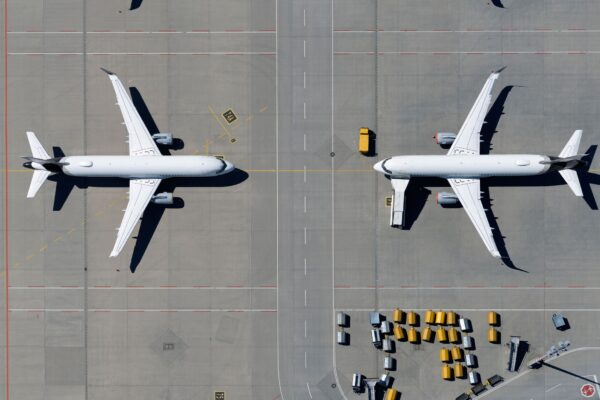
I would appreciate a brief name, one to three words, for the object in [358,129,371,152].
vehicle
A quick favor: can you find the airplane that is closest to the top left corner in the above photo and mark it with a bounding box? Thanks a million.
[21,68,236,258]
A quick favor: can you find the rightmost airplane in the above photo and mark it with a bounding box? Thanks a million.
[373,68,588,257]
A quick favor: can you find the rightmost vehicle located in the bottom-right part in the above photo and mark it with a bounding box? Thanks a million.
[550,312,566,330]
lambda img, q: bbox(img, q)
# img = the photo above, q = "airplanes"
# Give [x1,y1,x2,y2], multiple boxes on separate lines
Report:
[21,68,236,258]
[373,68,588,257]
